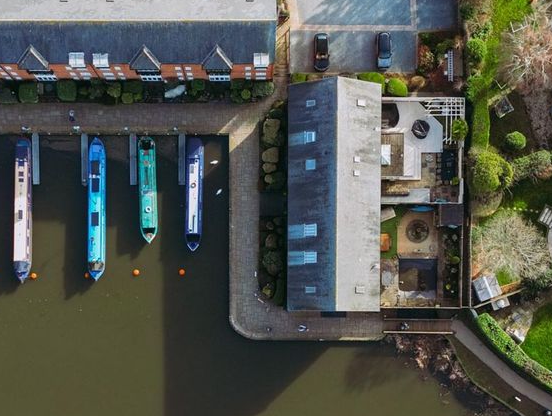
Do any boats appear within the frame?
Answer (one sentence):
Yes, the image includes a boat.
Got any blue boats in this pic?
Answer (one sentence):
Yes, you can see a blue boat in this photo.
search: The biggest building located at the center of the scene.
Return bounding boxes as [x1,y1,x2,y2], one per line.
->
[283,78,383,312]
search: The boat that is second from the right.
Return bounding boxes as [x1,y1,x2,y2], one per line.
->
[138,136,157,245]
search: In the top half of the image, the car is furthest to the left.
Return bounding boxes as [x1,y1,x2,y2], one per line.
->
[314,33,331,69]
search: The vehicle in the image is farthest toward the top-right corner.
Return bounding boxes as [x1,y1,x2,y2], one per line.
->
[376,30,394,67]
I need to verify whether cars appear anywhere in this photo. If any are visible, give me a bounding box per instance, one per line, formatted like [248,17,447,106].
[314,33,331,69]
[376,30,394,67]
